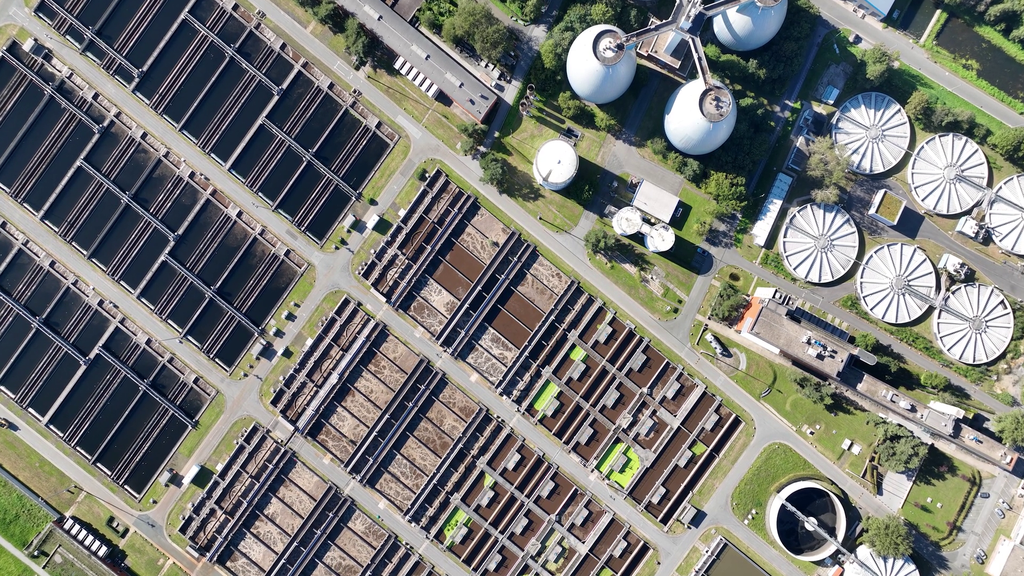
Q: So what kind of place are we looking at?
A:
industrial area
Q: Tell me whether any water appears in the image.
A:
Yes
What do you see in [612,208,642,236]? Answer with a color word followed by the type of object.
white storage tank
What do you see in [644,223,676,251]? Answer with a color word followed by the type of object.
white storage tank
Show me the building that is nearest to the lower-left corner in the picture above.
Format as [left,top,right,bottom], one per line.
[11,519,127,576]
